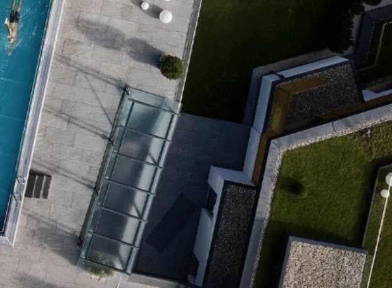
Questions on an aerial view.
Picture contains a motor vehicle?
No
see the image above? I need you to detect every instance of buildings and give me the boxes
[190,46,392,288]
[75,84,184,277]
